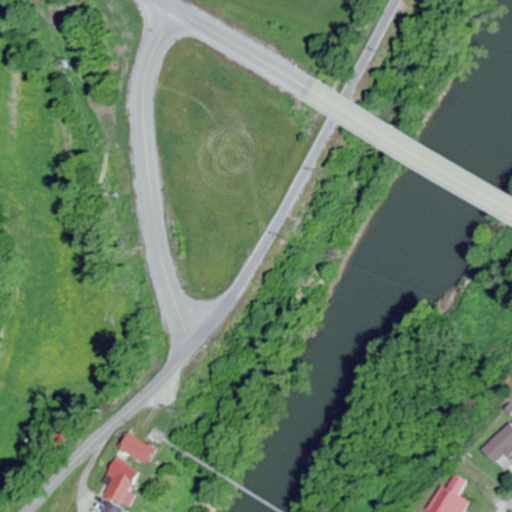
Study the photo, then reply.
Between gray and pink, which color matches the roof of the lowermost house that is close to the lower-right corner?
pink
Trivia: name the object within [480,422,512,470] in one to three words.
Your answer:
house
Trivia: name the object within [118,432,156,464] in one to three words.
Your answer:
shed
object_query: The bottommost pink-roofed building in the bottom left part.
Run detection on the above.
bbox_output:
[103,457,141,508]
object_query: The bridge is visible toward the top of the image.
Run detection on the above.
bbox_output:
[304,79,512,226]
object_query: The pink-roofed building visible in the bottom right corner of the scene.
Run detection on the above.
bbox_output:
[423,475,470,512]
